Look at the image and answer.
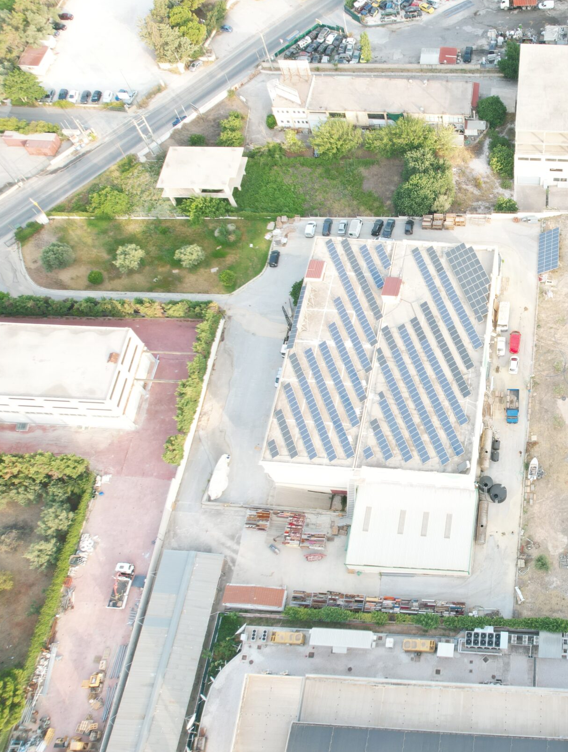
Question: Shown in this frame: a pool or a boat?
boat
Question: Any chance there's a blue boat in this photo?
No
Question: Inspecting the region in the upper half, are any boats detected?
No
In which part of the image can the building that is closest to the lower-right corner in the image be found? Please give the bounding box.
[345,476,477,579]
